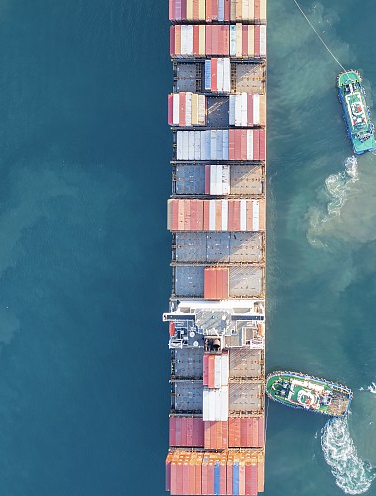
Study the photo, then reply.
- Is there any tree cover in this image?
No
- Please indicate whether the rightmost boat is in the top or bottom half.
top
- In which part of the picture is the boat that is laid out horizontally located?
bottom right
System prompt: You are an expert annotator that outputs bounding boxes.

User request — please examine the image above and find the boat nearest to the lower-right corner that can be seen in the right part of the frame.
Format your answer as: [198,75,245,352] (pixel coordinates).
[266,371,352,416]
